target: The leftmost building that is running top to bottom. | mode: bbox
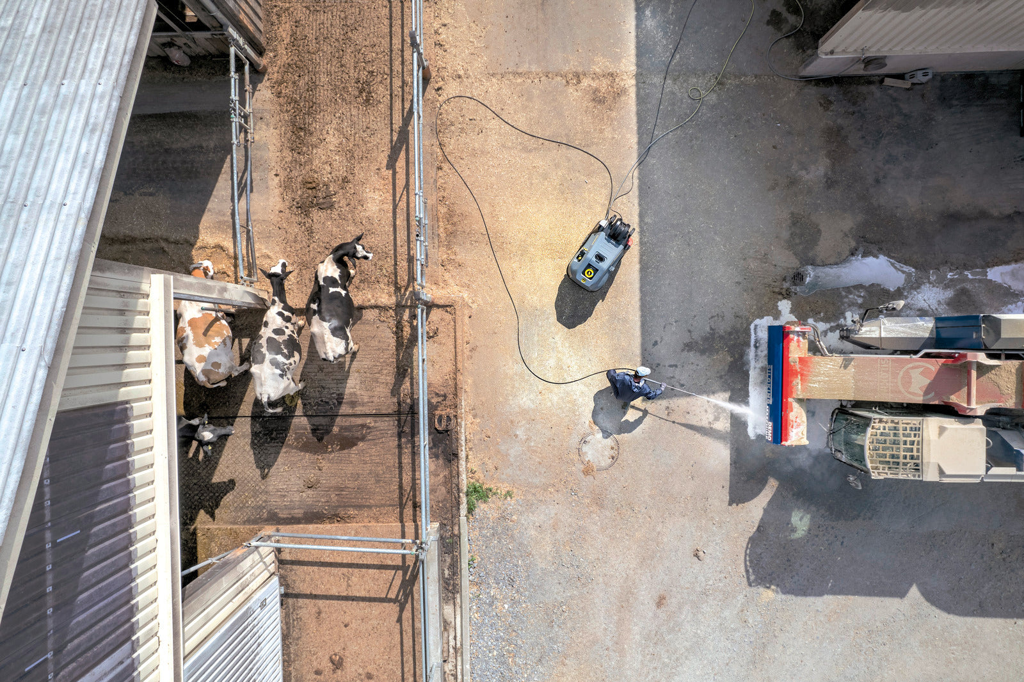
[0,0,282,682]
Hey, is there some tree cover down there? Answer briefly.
No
